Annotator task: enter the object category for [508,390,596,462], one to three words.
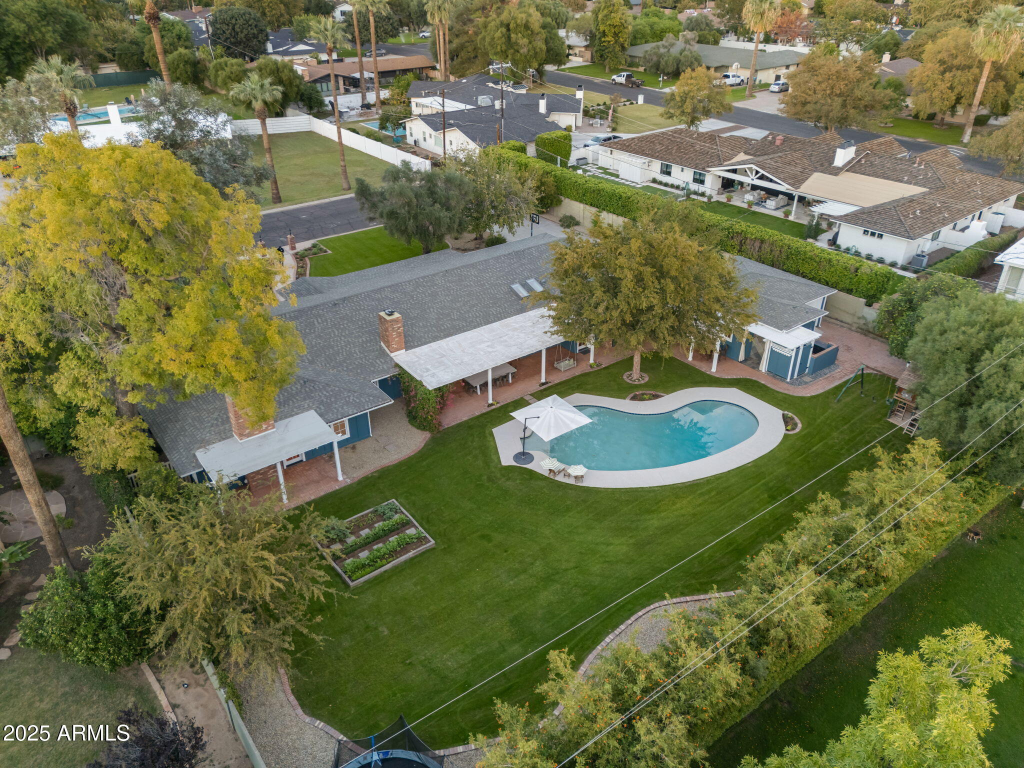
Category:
umbrella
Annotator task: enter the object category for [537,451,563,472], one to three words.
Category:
umbrella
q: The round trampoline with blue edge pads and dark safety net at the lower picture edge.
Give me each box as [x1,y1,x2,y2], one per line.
[344,714,453,768]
